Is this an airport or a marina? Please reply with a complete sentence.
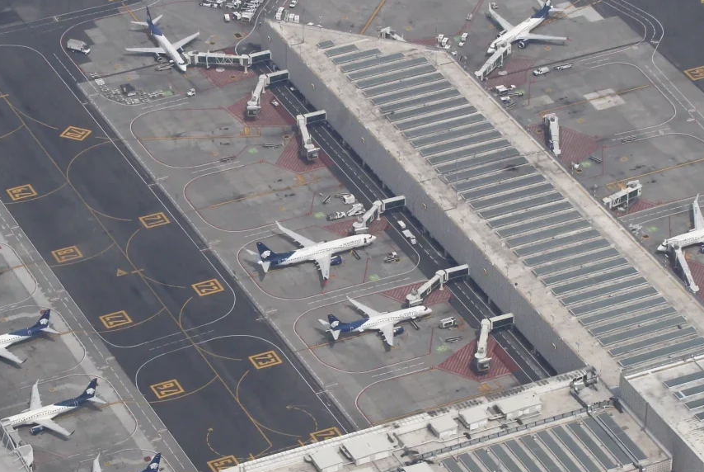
The picture captures an airport.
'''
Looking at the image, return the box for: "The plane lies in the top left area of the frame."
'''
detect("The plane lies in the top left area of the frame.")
[123,8,199,72]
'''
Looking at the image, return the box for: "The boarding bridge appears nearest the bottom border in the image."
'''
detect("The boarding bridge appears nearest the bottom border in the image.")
[474,310,511,374]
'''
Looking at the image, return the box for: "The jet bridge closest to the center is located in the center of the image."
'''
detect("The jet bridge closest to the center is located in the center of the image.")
[351,192,403,236]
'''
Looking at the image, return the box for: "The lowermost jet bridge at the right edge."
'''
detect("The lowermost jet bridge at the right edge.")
[664,245,704,303]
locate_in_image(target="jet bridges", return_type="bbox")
[294,107,325,163]
[407,262,467,311]
[183,50,272,80]
[597,181,640,211]
[351,192,403,236]
[468,44,509,82]
[245,68,289,121]
[664,245,704,303]
[474,310,511,374]
[541,117,564,164]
